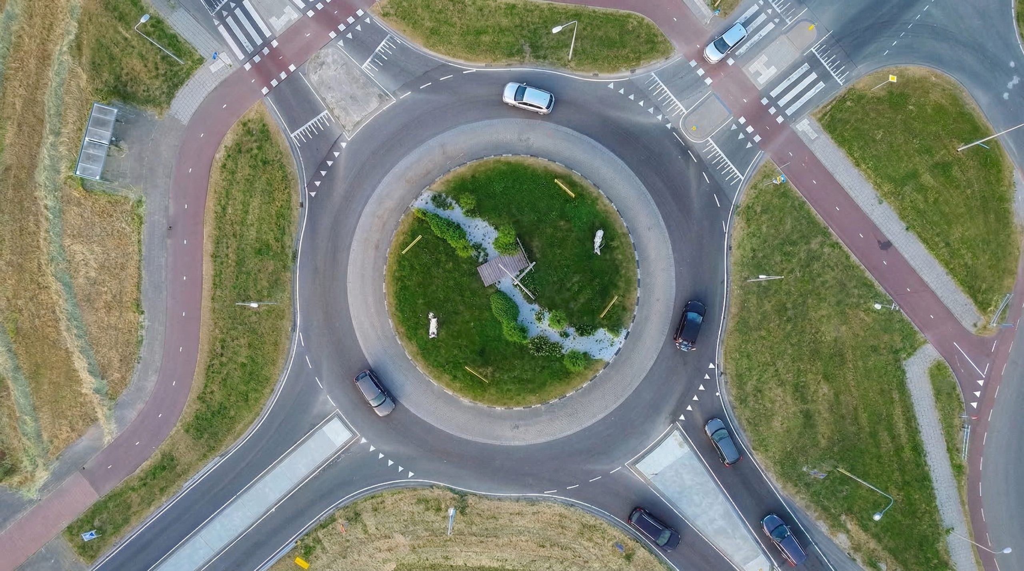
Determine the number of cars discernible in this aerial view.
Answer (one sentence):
The count of cars comes to 7.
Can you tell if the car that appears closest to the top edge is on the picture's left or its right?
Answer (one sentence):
The car that appears closest to the top edge sits on the right side.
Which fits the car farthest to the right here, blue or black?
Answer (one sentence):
From above, the car farthest to the right appears blue.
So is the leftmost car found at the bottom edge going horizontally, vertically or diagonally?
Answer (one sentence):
I'd say the leftmost car found at the bottom edge is aligned diagonally in the picture.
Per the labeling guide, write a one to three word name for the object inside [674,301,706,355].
car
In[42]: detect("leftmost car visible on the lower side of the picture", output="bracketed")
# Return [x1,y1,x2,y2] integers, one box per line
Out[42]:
[353,368,396,416]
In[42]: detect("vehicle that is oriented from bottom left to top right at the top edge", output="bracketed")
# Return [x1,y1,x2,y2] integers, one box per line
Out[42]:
[702,20,751,66]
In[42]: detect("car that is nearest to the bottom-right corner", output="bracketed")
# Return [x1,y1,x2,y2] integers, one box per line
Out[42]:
[761,513,809,568]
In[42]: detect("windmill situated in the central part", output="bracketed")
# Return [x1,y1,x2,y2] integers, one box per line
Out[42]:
[497,261,536,301]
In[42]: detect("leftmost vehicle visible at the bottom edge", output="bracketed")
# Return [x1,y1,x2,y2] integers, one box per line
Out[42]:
[627,505,680,552]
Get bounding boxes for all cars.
[703,417,744,468]
[702,20,751,66]
[674,301,706,355]
[503,82,555,116]
[353,368,396,416]
[627,505,680,552]
[761,513,809,568]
